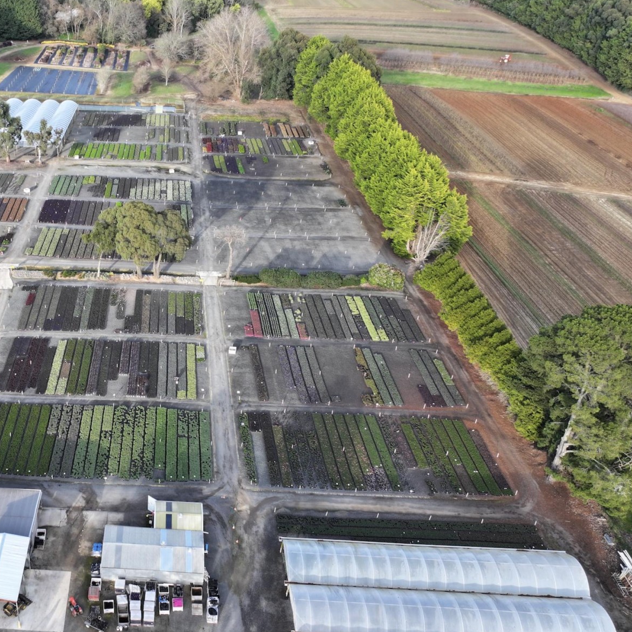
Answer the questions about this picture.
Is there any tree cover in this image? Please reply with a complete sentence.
Yes, tree cover can be seen from above here.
